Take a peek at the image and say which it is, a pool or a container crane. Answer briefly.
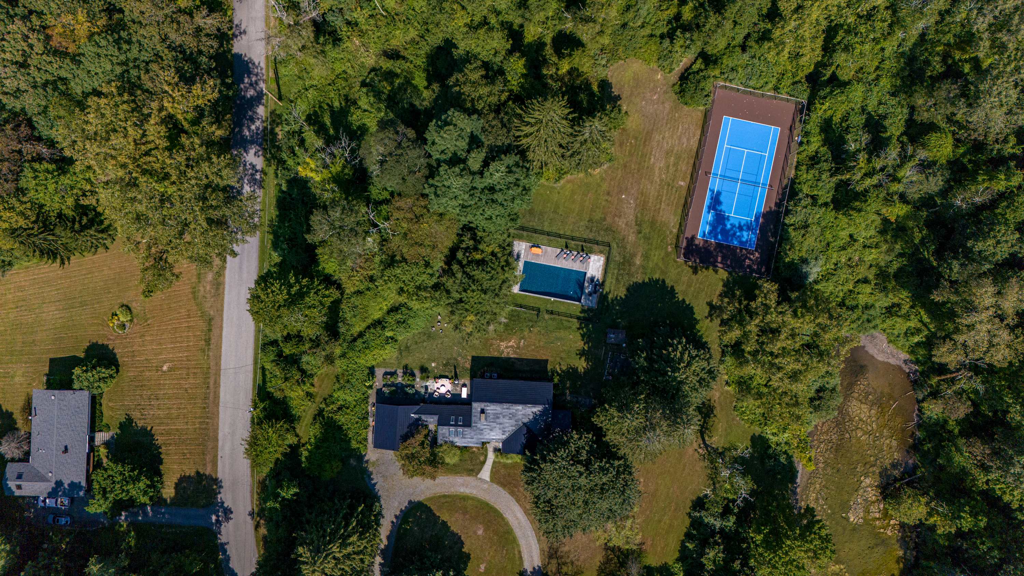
pool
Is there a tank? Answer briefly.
No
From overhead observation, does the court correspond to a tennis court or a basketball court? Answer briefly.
tennis court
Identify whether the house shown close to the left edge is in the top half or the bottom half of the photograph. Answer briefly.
bottom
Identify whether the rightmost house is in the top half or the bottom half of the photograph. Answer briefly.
bottom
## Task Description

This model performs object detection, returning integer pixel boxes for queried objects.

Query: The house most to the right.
[373,375,571,456]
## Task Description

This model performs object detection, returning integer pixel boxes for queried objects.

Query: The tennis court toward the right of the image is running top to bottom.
[677,87,795,276]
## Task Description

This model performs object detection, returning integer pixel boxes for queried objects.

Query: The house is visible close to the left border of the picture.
[2,389,106,497]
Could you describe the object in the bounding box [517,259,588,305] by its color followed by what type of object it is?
blue swimming pool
